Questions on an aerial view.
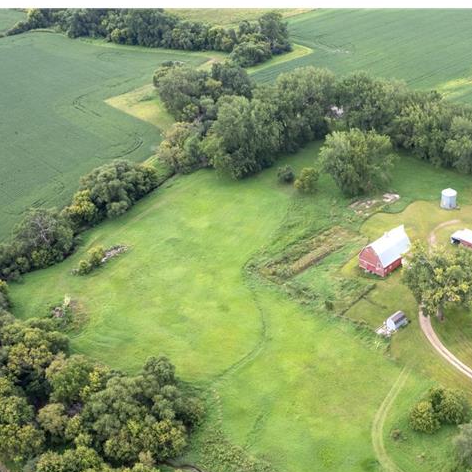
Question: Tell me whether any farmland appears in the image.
Yes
